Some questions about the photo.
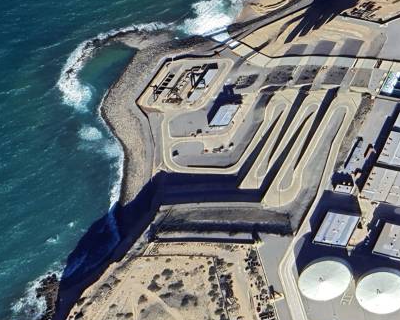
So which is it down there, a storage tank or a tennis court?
storage tank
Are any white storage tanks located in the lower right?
Yes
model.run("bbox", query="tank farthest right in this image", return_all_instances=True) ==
[355,261,400,316]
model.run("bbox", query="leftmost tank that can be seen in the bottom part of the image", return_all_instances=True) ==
[298,248,353,304]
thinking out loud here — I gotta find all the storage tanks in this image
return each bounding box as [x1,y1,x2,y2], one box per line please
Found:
[355,261,400,316]
[298,248,353,304]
